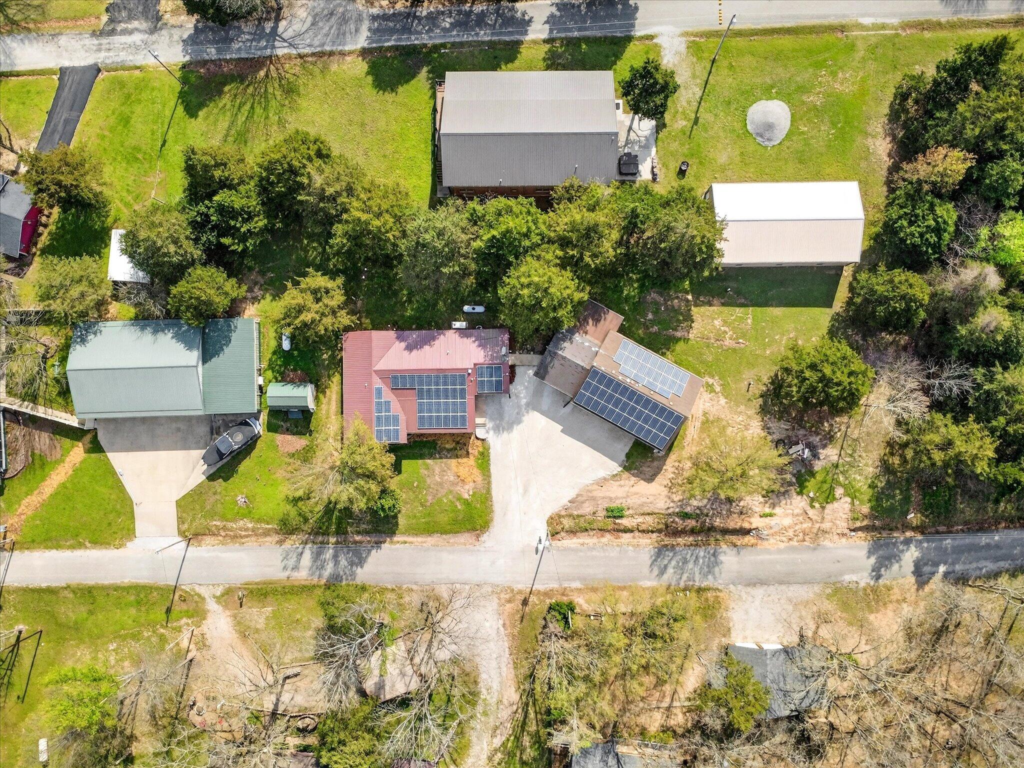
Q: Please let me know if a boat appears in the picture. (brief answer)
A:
Yes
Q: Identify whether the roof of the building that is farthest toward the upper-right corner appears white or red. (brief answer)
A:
white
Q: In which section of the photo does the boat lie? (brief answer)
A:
left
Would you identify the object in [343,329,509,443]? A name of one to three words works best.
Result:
house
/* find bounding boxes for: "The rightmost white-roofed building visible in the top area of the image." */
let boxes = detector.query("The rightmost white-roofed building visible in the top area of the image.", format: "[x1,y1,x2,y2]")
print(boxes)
[703,181,865,269]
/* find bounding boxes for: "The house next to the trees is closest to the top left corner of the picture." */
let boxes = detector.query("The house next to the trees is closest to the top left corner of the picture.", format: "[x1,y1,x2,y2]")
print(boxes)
[0,173,40,257]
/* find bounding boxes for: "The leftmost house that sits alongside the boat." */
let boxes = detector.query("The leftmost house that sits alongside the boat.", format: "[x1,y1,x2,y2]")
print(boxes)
[66,318,265,418]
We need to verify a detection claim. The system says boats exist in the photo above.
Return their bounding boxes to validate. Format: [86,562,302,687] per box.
[202,418,265,462]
